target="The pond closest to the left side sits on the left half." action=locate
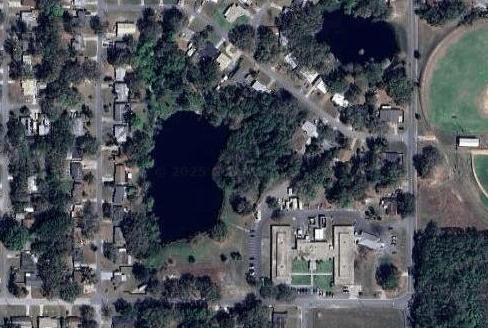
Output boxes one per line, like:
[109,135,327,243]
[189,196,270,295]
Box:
[150,111,229,242]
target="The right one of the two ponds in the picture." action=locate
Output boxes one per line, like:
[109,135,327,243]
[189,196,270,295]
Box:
[317,9,398,64]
